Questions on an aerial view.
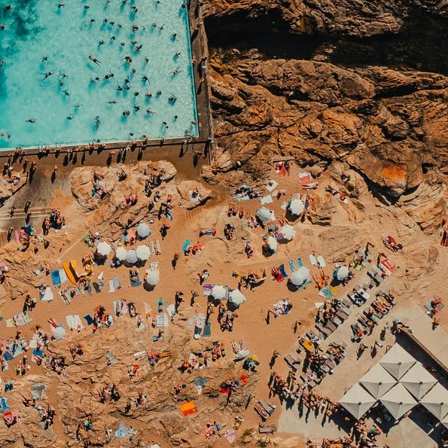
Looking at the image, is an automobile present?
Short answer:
No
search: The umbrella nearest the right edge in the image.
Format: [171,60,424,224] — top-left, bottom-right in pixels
[331,265,350,281]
